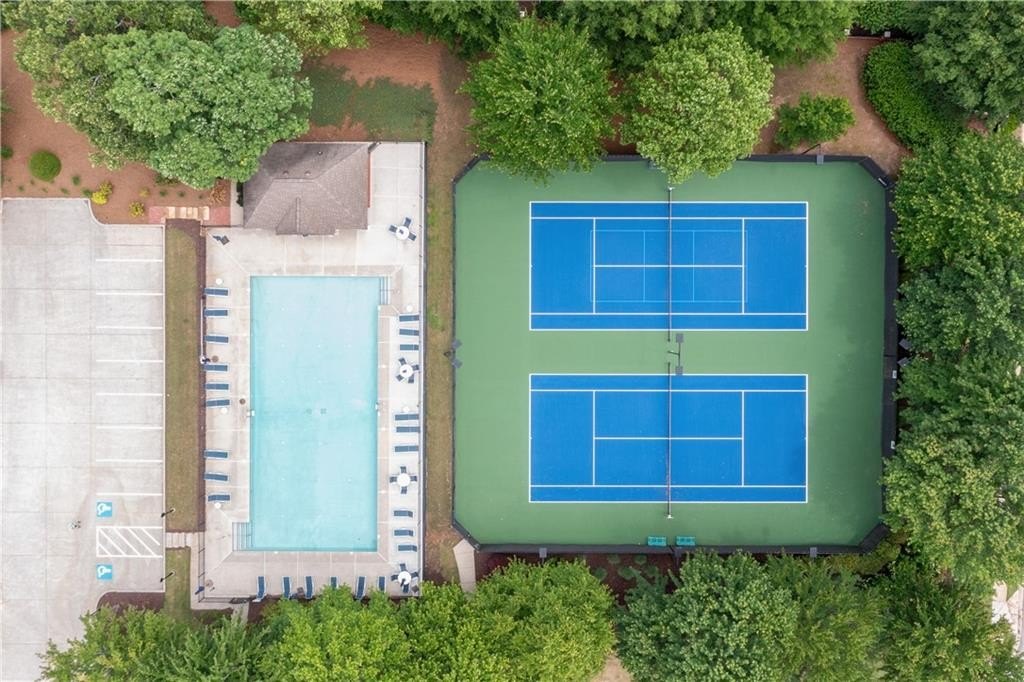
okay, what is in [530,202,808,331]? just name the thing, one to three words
tennis court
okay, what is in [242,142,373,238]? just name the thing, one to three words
building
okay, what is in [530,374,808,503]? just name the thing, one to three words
tennis court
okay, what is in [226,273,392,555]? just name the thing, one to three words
swimming pool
